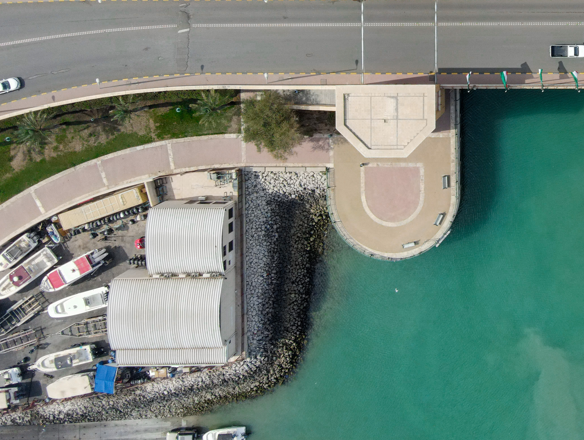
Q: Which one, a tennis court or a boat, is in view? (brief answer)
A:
boat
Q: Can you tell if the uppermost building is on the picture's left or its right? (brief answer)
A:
left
